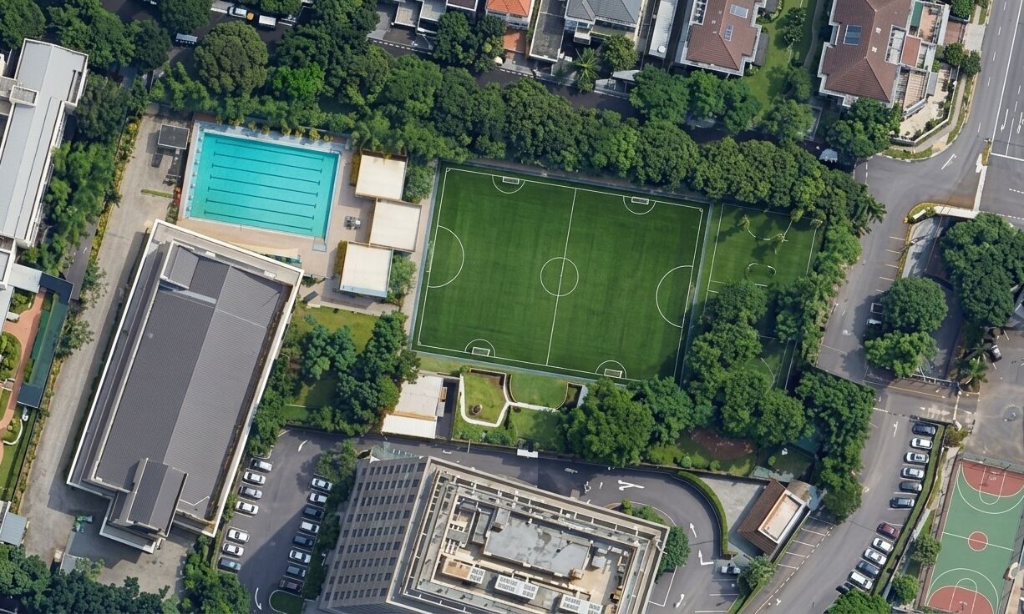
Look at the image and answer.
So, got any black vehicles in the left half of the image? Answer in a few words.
Yes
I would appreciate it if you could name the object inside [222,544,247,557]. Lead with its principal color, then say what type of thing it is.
white vehicle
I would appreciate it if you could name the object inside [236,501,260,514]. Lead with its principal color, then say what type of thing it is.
white vehicle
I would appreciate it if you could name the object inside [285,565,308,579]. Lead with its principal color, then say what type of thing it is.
blue car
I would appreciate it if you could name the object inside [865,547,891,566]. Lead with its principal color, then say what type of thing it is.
white car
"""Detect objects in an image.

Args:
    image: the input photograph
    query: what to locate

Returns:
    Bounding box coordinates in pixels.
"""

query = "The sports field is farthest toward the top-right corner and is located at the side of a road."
[695,200,820,397]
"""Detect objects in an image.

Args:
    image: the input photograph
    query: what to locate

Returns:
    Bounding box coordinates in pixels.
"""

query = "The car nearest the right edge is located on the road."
[990,341,1007,364]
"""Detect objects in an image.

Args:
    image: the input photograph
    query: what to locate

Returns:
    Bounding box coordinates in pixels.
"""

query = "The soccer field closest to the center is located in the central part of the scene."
[412,162,711,382]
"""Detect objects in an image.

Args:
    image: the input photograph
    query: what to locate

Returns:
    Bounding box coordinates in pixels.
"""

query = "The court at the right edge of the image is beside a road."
[917,454,1024,614]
